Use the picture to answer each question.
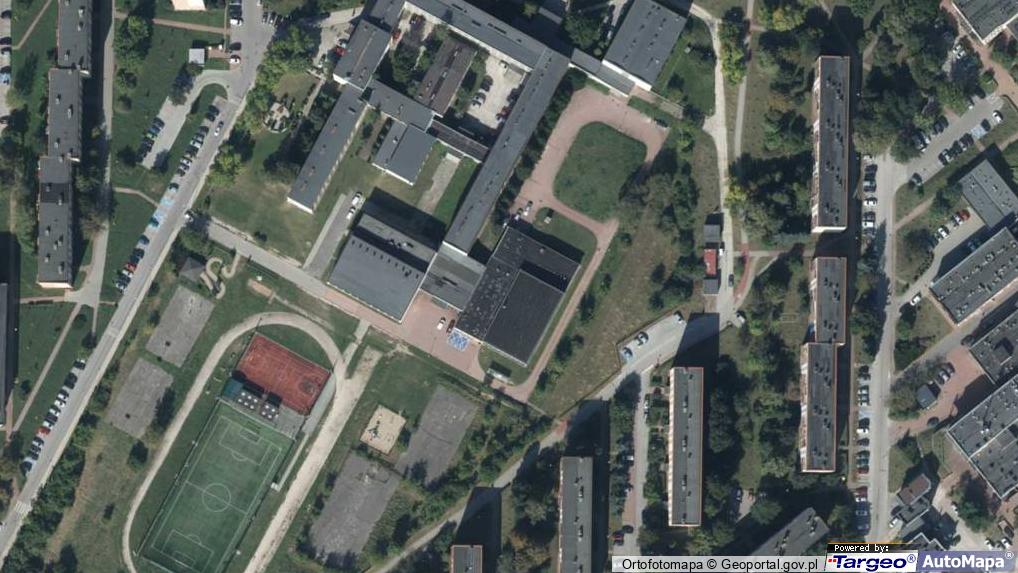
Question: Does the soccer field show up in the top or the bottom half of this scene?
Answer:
bottom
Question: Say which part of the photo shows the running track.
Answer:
bottom left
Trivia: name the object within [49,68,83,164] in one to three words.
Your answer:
building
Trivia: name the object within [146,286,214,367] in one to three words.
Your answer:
sports court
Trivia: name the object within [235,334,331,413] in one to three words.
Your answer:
sports court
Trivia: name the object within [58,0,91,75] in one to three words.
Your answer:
building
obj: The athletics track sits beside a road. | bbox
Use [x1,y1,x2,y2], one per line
[125,313,383,573]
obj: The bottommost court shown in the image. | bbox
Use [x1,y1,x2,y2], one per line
[311,450,399,559]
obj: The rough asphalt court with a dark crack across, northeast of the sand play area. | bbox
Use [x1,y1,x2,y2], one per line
[396,386,478,485]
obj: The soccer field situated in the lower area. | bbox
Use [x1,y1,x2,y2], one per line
[139,400,295,573]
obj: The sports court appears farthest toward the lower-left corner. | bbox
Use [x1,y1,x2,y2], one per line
[106,358,173,438]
